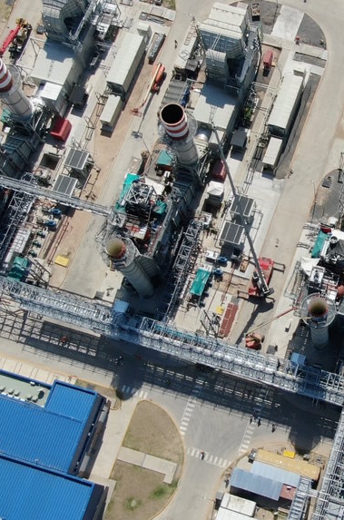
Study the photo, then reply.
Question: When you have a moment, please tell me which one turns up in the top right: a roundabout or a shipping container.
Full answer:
There is a shipping container in the top right.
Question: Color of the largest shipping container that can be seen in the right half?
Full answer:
The largest shipping container that can be seen in the right half looks white in the image.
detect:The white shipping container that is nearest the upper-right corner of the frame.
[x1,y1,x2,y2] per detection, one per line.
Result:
[264,64,310,139]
